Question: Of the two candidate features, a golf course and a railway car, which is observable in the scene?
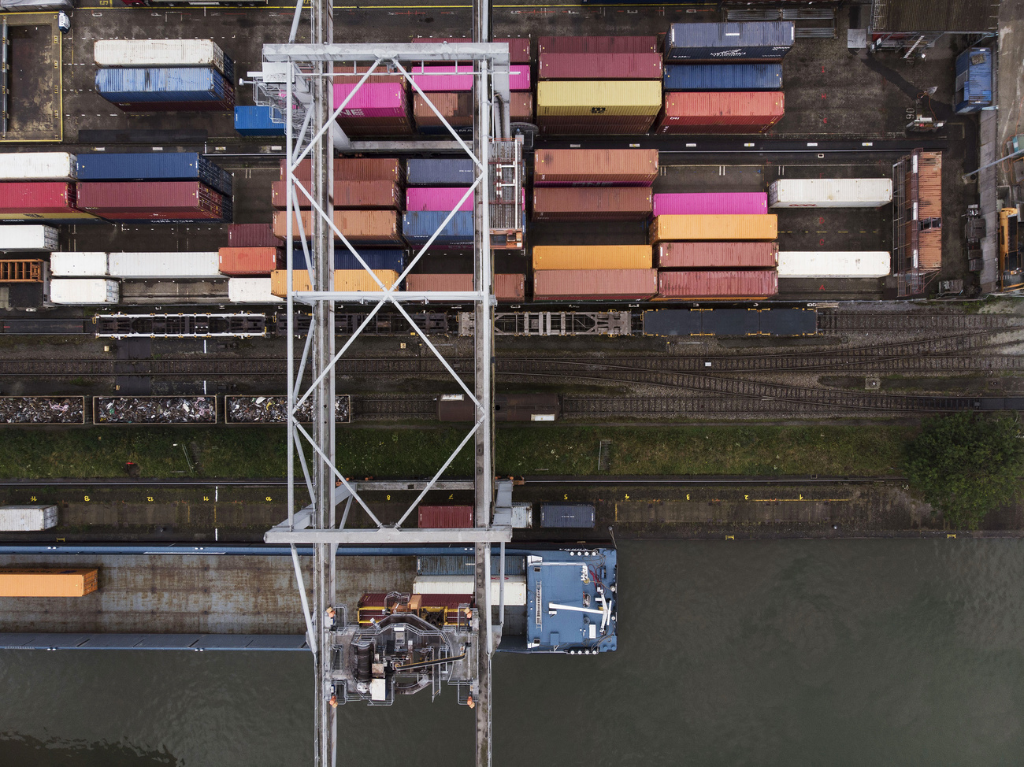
railway car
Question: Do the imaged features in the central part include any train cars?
Yes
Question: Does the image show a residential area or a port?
port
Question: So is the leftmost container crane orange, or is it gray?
gray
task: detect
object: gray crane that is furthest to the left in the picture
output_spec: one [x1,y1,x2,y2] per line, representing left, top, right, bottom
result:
[239,0,538,767]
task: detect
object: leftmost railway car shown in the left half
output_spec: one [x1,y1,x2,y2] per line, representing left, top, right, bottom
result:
[0,395,93,425]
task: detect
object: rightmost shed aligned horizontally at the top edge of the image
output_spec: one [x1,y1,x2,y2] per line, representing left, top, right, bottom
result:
[852,0,999,59]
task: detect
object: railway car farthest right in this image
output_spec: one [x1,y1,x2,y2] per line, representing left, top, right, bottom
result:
[638,309,821,336]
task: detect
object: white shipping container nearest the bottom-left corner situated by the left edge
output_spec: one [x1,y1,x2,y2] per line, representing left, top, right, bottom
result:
[0,504,58,530]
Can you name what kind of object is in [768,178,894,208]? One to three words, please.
shipping container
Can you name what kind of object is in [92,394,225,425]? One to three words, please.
rail car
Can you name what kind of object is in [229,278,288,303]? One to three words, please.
shipping container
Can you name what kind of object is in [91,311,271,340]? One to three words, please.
rail car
